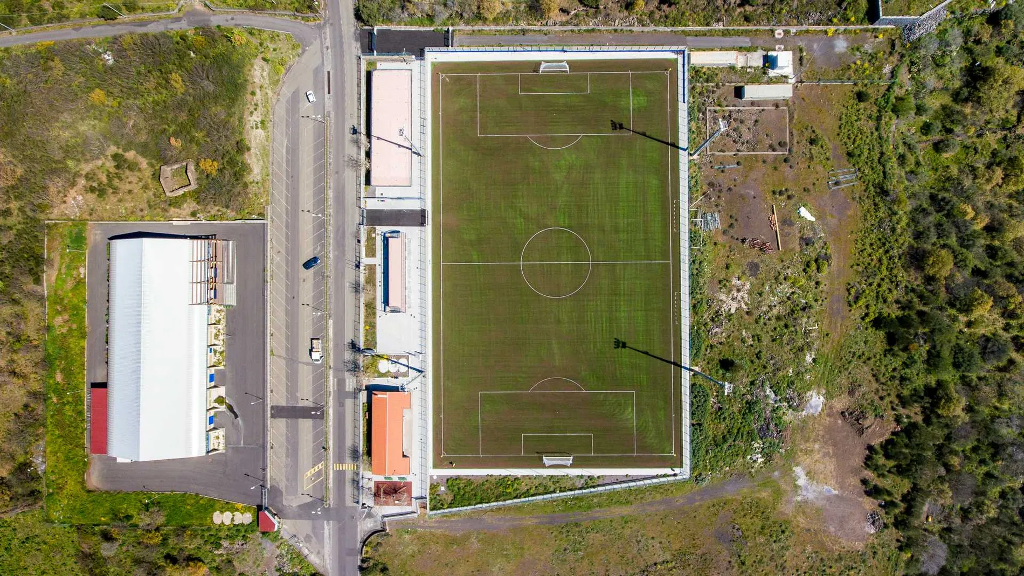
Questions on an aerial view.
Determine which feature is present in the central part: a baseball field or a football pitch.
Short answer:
football pitch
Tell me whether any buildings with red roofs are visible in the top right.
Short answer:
No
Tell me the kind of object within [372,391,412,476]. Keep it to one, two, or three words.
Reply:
building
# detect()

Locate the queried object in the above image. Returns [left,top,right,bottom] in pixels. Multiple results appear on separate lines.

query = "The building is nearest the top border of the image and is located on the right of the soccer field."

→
[766,51,793,77]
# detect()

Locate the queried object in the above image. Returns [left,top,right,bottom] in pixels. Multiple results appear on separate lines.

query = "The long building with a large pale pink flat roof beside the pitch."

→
[370,69,413,188]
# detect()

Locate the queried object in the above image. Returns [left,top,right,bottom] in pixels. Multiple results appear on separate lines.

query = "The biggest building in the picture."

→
[85,238,237,462]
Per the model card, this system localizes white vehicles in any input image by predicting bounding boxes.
[311,339,322,362]
[305,89,316,104]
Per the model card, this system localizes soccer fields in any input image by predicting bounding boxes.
[433,58,681,468]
